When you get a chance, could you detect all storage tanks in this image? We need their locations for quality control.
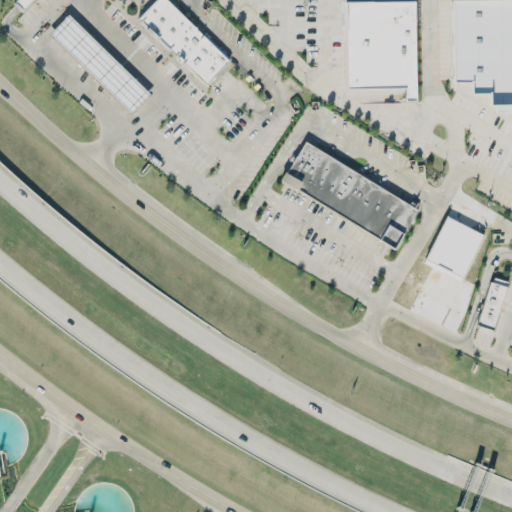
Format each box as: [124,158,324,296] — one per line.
[0,408,28,478]
[74,482,133,512]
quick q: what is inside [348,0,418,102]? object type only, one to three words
building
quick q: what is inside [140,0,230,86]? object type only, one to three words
building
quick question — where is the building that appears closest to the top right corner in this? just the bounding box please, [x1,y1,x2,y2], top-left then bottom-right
[454,1,512,106]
